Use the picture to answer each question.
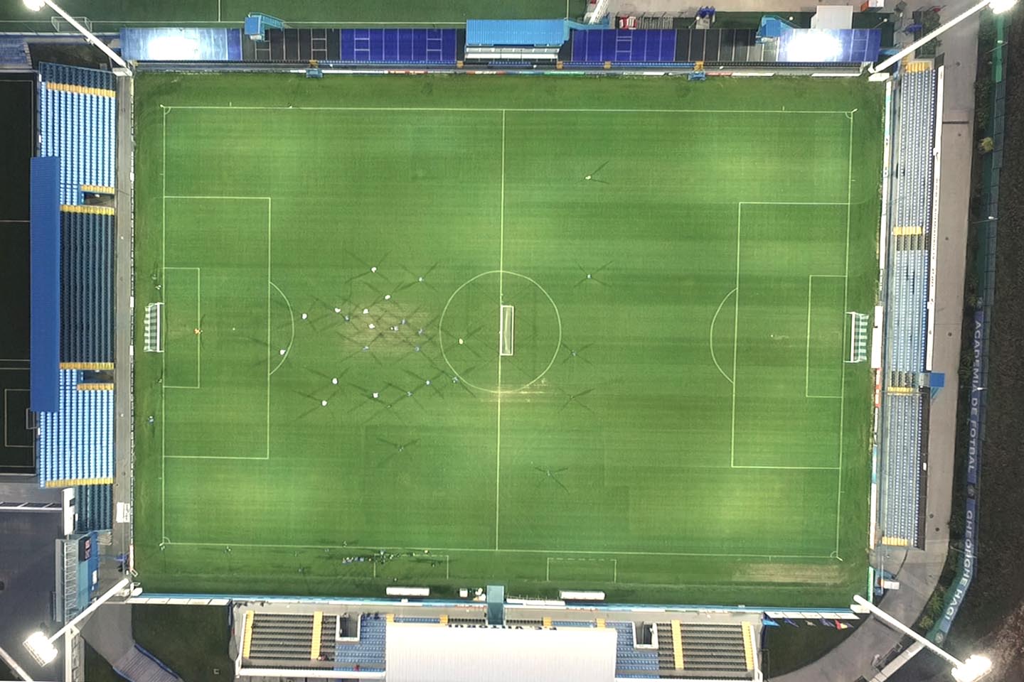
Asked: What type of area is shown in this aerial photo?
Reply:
sports ground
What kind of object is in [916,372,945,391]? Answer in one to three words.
building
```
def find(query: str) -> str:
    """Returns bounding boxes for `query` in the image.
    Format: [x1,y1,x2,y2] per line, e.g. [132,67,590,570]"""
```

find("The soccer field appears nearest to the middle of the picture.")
[133,75,883,612]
